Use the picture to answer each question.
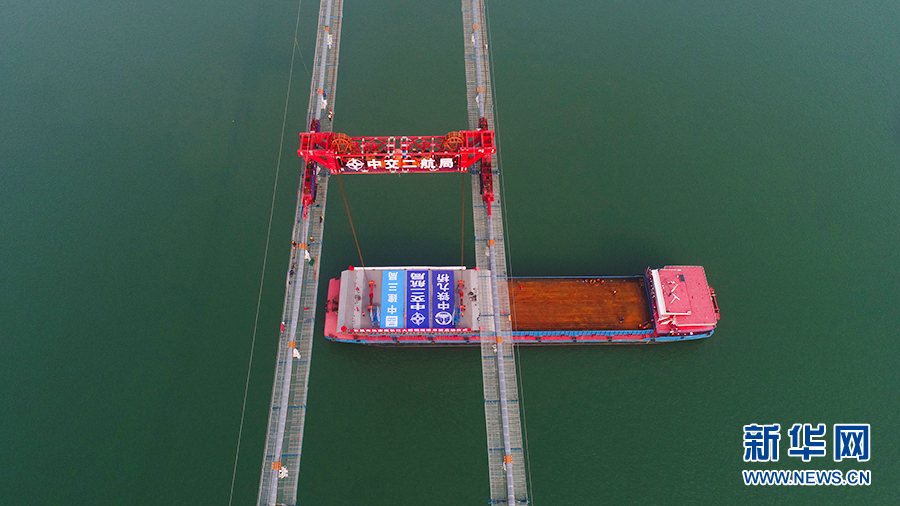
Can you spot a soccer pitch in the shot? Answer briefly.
No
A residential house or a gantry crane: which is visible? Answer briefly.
gantry crane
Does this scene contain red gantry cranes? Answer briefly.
Yes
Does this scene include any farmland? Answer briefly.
No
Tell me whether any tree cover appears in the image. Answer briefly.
No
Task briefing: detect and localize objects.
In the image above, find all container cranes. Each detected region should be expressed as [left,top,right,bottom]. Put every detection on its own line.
[297,117,496,221]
